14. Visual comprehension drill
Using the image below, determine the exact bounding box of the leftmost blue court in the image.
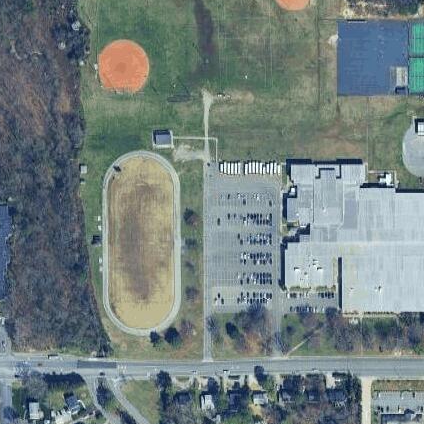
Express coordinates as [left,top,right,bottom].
[337,20,408,95]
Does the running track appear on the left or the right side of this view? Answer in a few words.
left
